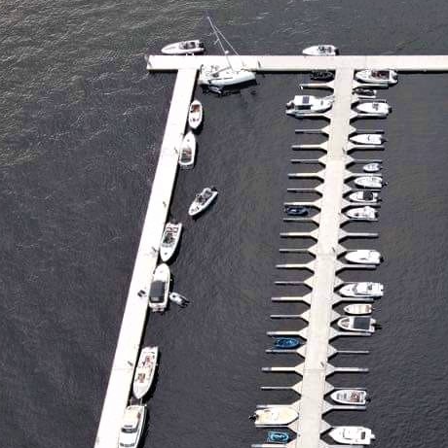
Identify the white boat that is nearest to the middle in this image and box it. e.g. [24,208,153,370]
[188,188,217,214]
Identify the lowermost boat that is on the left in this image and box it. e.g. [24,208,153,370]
[119,401,153,448]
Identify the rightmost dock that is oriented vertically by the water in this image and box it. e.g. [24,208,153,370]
[297,69,355,448]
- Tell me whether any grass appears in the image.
No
